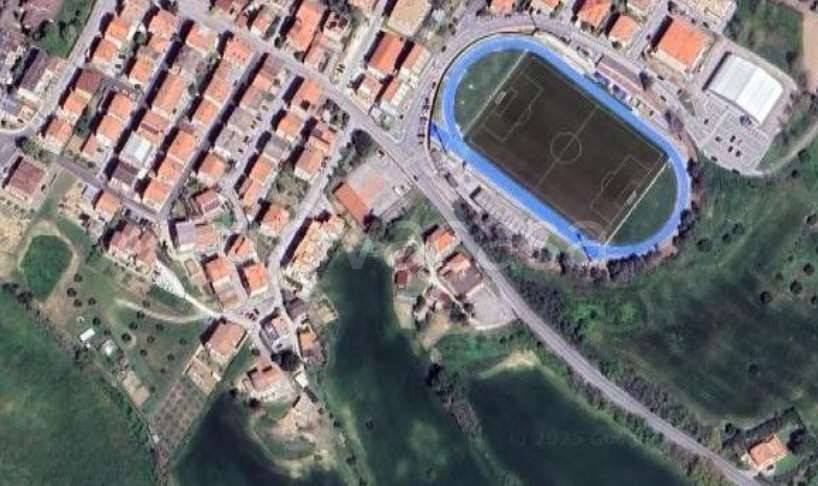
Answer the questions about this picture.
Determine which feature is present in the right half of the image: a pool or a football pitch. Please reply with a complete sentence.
What appears in the right half of the image is a football pitch.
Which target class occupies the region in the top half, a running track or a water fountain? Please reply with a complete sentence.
Looking in the top half, you will find a running track.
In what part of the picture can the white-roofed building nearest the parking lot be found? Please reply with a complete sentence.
Look in the top right portion of the view to spot the white-roofed building nearest the parking lot.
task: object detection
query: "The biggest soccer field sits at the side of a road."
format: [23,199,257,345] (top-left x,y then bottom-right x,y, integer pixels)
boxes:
[460,51,670,246]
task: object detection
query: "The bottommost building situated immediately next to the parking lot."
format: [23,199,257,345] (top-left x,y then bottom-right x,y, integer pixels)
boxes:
[705,56,784,124]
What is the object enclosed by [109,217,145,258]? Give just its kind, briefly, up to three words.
house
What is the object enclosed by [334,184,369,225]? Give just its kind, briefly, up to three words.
shed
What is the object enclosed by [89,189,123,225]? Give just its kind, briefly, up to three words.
shed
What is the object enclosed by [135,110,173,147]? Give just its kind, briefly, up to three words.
building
